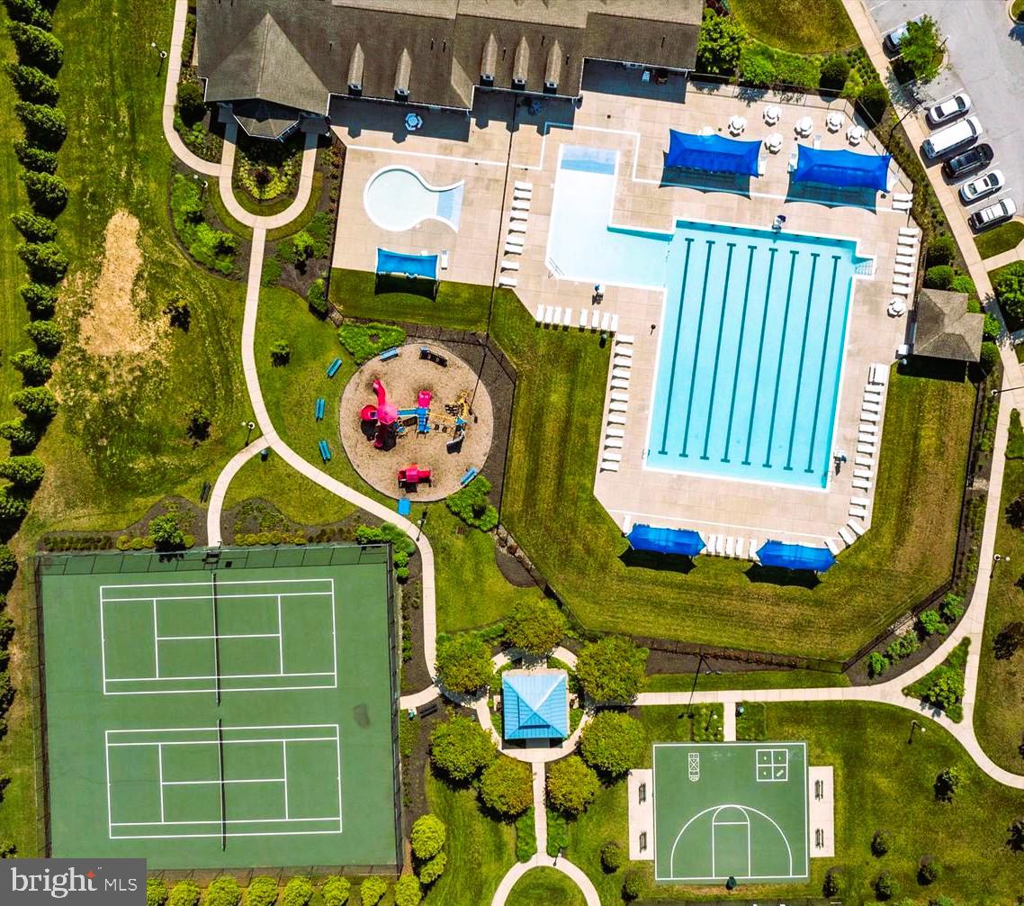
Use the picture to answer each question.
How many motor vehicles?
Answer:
6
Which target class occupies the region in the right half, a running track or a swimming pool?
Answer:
swimming pool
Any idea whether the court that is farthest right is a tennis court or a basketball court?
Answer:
basketball court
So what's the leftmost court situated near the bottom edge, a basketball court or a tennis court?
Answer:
tennis court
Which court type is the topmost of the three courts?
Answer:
tennis court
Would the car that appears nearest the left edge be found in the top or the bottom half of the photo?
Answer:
top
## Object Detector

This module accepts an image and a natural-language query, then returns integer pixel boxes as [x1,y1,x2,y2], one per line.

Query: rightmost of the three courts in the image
[652,740,810,884]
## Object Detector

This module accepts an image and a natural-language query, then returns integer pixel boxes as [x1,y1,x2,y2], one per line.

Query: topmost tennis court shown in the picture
[38,544,395,711]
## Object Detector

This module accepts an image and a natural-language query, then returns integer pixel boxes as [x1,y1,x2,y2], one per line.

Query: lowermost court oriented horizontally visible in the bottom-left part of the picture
[45,704,398,871]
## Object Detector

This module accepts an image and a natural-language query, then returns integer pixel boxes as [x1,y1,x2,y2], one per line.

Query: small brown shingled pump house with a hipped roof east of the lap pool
[911,288,986,362]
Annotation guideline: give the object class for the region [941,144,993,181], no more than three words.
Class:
car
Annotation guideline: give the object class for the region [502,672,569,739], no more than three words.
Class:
gazebo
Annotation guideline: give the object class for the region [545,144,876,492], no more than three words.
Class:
swimming pool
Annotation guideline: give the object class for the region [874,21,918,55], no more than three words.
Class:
car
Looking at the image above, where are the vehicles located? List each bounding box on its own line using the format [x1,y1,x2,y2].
[874,21,918,55]
[967,196,1017,231]
[941,144,993,181]
[922,118,983,159]
[925,93,971,127]
[957,169,1005,203]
